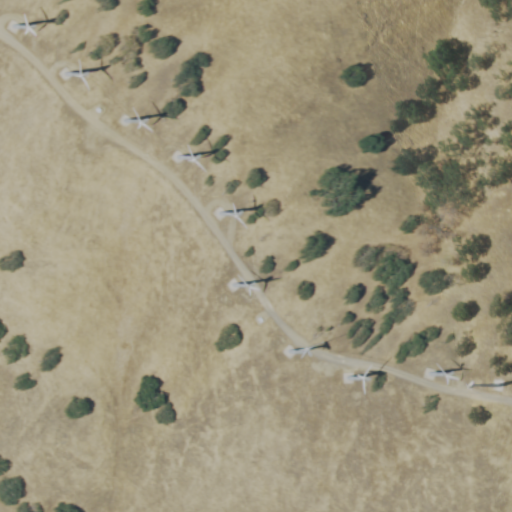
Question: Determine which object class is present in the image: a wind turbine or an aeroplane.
wind turbine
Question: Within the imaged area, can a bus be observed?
No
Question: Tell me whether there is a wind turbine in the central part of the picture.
Yes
